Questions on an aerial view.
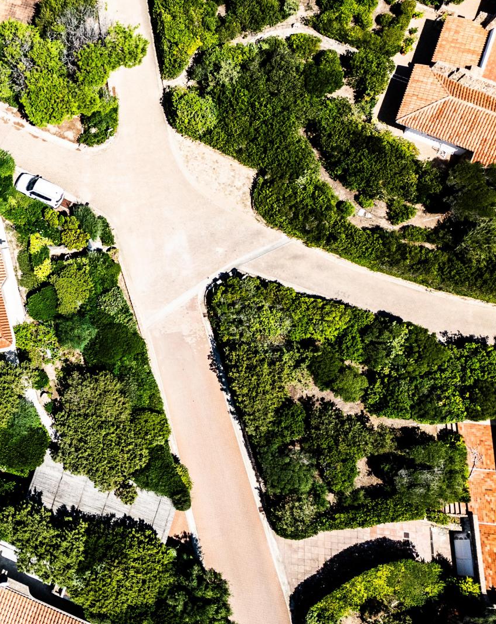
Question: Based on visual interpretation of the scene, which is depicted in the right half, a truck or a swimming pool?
truck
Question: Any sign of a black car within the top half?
No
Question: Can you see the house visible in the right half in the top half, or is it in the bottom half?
top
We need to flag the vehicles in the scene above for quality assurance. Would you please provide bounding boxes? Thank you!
[14,171,67,209]
[452,531,485,575]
